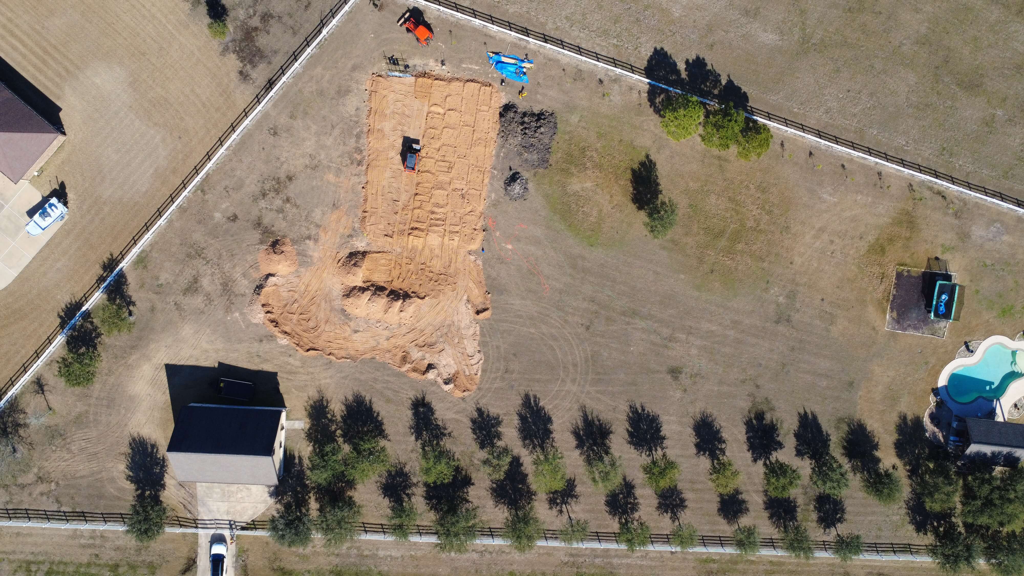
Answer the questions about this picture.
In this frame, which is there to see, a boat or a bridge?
boat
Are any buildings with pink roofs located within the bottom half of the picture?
No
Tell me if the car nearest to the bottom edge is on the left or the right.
left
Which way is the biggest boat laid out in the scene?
diagonally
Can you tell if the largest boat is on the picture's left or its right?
left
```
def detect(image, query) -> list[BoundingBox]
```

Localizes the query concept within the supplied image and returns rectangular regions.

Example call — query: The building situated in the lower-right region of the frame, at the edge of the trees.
[950,417,1024,469]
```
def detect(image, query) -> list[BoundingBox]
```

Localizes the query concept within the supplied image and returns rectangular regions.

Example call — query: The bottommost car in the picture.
[209,542,229,576]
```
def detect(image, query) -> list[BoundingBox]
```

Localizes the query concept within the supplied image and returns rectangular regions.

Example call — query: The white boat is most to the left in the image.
[29,196,70,240]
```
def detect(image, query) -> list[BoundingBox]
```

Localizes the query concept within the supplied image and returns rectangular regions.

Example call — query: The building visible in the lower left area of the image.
[164,403,285,486]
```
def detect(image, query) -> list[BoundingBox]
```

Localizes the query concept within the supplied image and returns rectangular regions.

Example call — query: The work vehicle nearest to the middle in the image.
[402,146,421,176]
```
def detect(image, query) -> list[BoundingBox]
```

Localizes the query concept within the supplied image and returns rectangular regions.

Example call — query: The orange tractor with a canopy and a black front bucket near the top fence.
[402,17,435,49]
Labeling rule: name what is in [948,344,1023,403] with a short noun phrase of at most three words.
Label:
swimming pool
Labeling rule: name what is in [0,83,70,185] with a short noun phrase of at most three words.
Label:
house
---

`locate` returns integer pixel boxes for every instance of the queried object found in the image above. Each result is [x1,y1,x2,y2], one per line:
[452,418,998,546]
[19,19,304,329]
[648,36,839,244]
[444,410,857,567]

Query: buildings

[950,417,1024,469]
[164,403,285,486]
[0,83,70,185]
